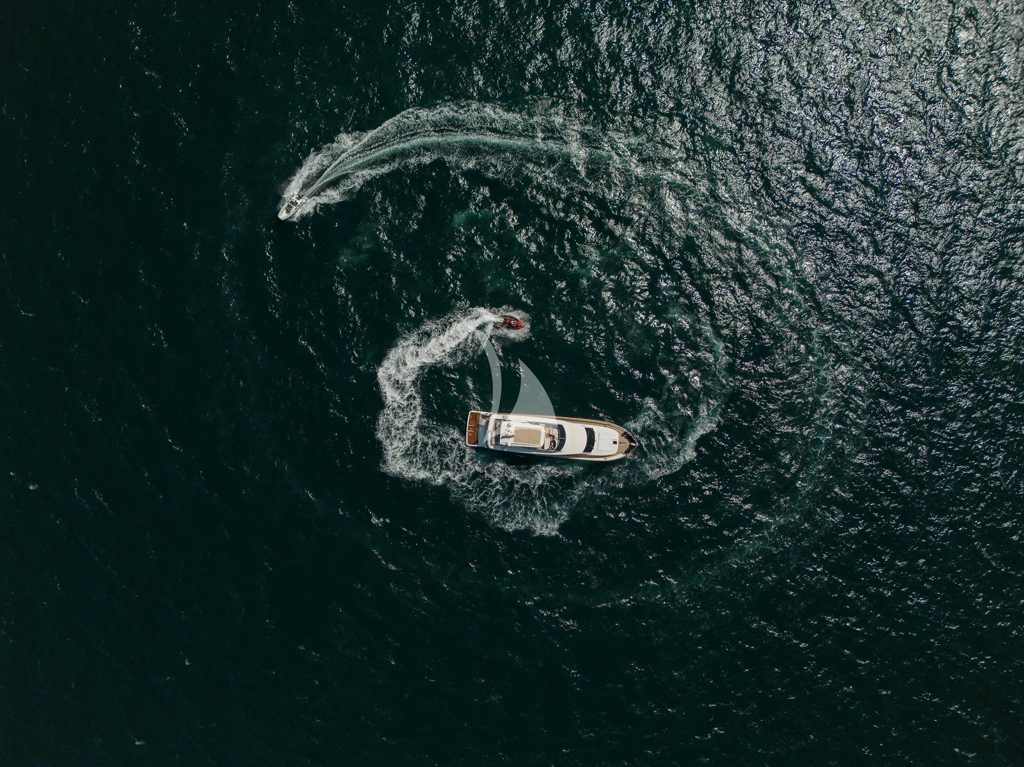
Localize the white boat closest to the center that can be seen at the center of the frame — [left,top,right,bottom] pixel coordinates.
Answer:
[466,411,638,461]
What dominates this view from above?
water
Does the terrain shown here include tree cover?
No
